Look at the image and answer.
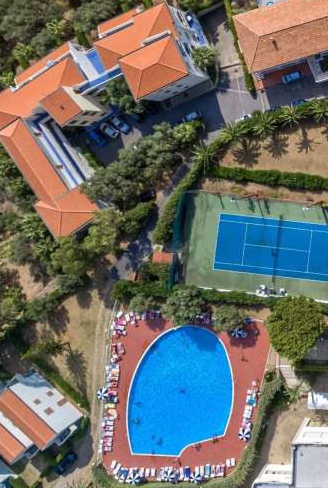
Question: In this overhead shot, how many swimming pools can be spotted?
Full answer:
The count comes to 1 swimming pool.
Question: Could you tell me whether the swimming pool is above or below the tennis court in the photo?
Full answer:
Relative to the tennis court, the swimming pool lies below it.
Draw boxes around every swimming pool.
[103,310,268,482]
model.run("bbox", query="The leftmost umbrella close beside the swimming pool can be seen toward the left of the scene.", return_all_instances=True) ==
[96,387,109,400]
